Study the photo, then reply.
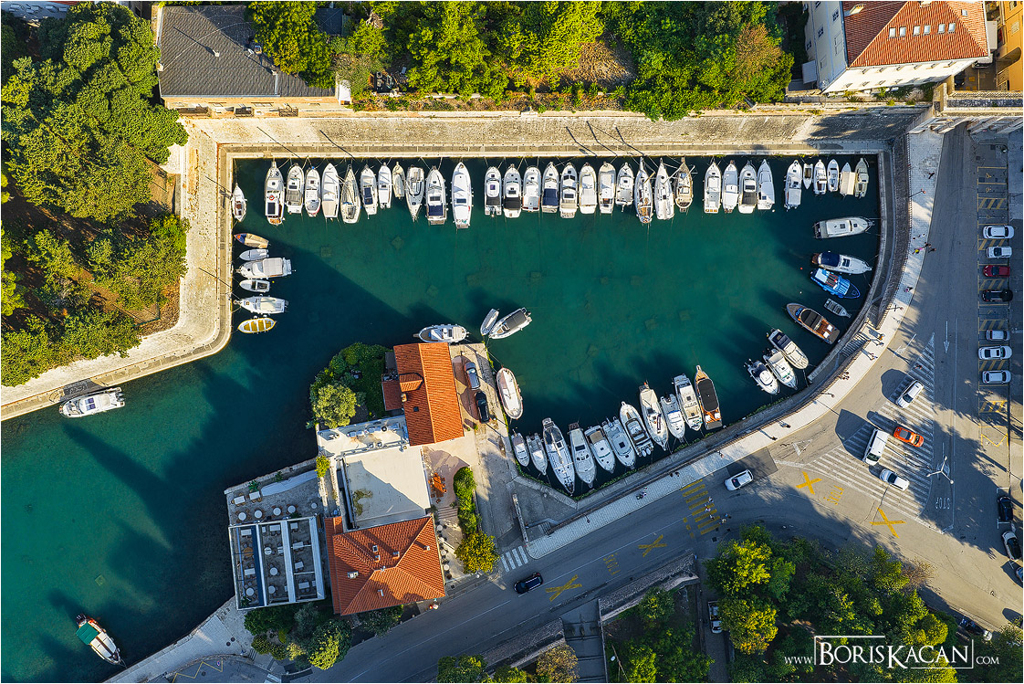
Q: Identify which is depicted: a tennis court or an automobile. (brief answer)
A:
automobile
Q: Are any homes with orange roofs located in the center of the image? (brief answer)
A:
Yes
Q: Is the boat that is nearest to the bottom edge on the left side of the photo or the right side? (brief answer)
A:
left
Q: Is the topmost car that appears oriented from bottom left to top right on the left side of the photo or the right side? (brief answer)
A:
right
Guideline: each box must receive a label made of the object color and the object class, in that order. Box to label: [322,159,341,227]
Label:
white boat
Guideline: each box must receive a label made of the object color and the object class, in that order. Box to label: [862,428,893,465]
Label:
white van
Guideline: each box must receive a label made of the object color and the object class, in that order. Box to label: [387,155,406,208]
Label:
white boat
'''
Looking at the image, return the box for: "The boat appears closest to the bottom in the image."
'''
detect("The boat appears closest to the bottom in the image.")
[75,616,128,668]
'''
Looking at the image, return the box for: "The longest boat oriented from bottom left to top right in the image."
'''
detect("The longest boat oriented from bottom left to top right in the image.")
[490,306,531,338]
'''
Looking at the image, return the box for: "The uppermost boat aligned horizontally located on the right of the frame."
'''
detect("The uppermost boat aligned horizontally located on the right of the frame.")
[812,217,880,241]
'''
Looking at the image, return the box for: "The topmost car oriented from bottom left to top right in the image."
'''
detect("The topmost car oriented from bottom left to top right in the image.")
[892,378,928,410]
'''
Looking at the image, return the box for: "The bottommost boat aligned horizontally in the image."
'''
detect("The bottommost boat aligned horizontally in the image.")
[57,388,127,415]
